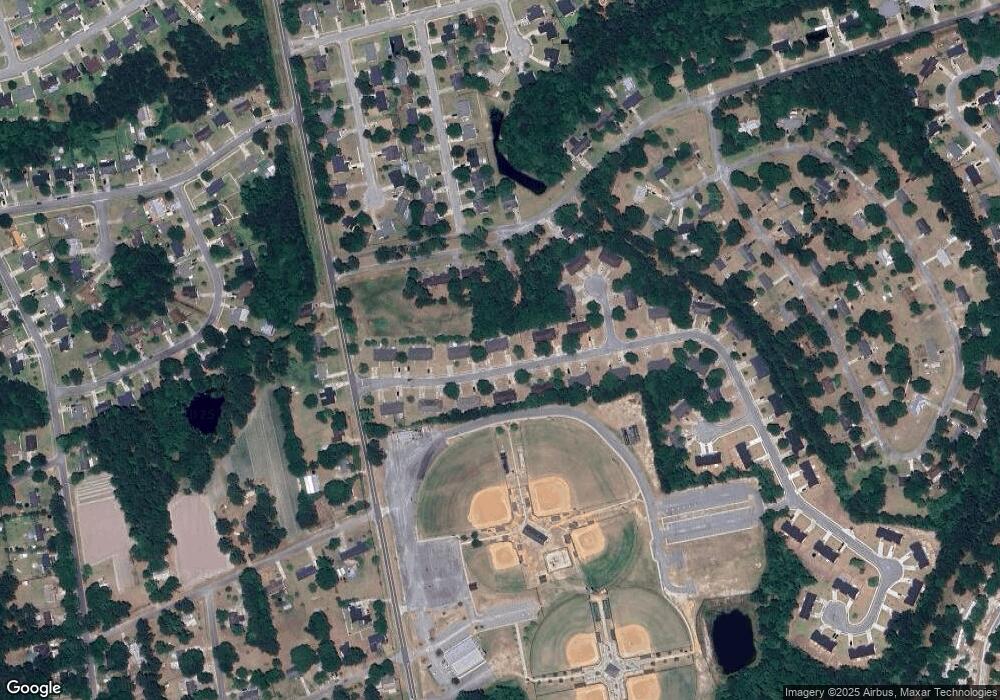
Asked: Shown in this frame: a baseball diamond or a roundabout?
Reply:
baseball diamond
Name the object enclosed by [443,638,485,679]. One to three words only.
building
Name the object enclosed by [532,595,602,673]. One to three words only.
baseball field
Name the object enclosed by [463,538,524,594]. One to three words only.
baseball field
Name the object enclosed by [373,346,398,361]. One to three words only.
house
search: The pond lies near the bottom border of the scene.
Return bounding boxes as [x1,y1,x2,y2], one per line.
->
[712,608,755,674]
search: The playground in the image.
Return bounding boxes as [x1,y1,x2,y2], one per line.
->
[545,549,572,572]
